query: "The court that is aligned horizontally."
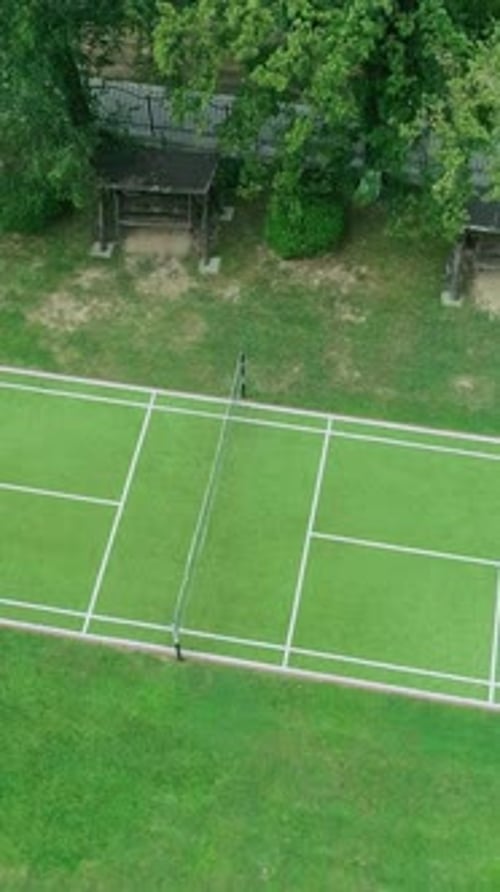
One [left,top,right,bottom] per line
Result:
[0,366,500,709]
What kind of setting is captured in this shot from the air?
sports ground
